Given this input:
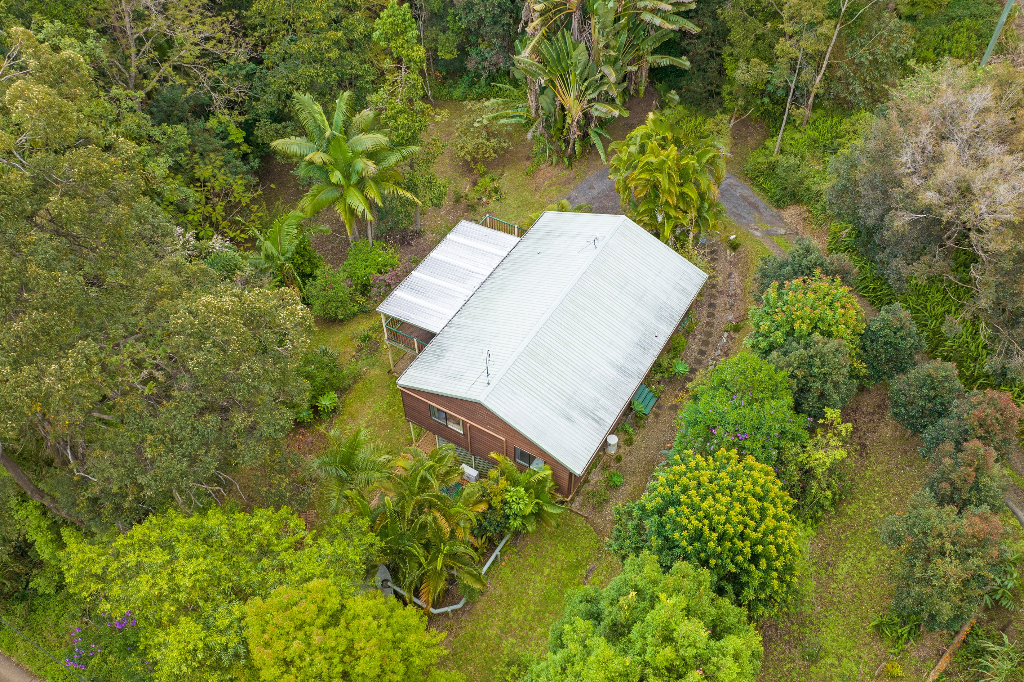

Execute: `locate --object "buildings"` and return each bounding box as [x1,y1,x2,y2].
[374,212,708,502]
